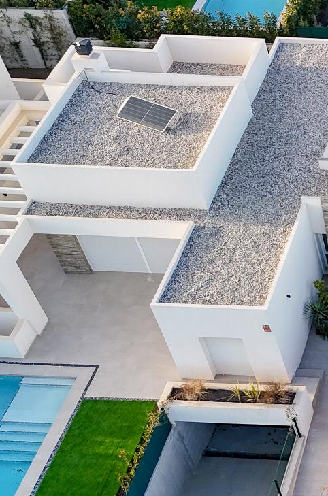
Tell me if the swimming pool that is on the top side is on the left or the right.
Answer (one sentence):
The swimming pool that is on the top side sits on the right side.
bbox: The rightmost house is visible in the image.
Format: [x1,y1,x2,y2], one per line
[23,38,328,379]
